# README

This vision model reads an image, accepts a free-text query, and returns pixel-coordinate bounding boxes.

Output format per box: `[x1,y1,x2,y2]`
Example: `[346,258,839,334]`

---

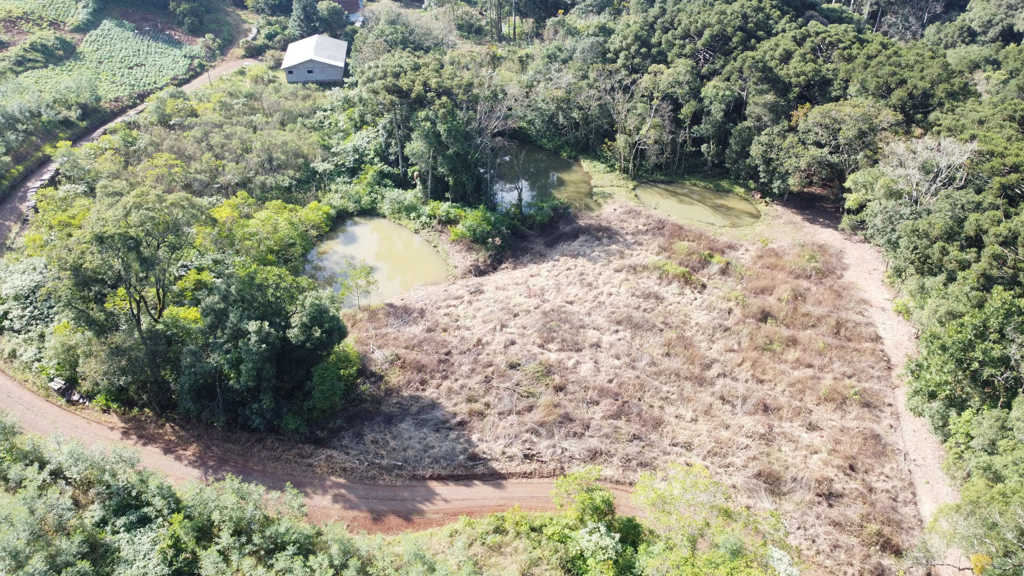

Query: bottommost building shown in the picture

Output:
[278,34,345,85]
